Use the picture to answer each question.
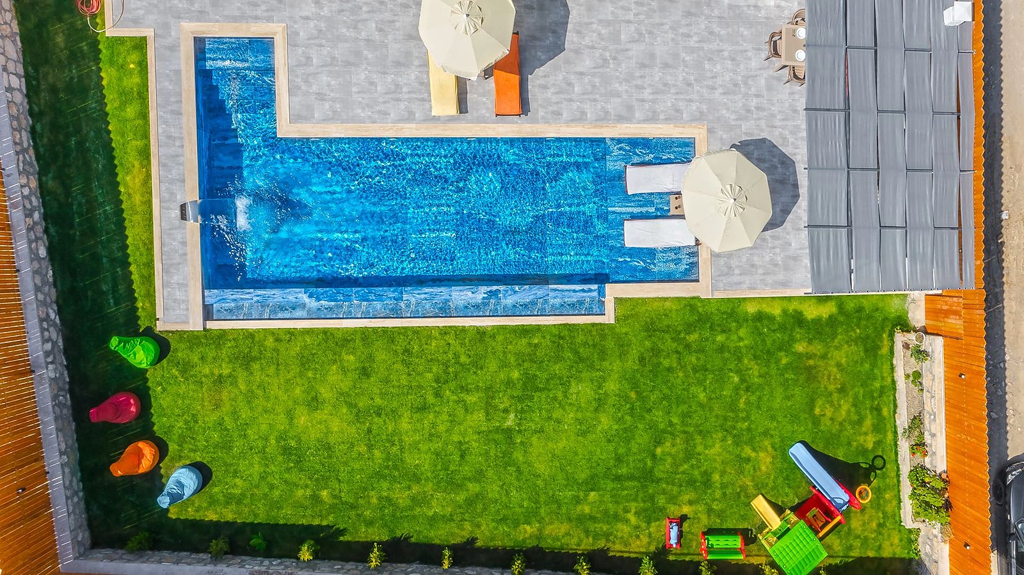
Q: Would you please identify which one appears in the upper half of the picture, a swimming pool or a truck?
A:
swimming pool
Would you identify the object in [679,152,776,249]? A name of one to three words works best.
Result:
umbrella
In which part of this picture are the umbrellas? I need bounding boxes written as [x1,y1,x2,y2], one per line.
[679,152,776,249]
[419,0,515,77]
